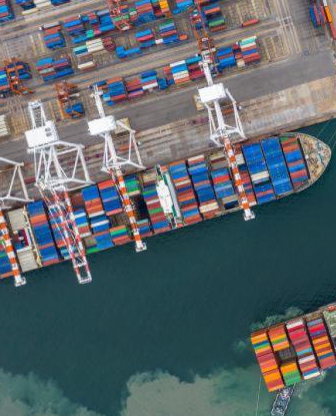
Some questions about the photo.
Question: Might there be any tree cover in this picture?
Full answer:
No, there is no tree cover in the image.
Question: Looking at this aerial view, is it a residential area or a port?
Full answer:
What you see here is a port.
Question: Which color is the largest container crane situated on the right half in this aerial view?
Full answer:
The largest container crane situated on the right half is white.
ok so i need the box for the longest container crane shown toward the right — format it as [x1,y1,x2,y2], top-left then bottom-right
[198,53,255,220]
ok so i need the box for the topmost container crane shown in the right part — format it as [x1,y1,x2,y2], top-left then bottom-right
[190,7,220,56]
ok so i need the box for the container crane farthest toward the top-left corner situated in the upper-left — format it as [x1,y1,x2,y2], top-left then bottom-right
[5,55,43,102]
